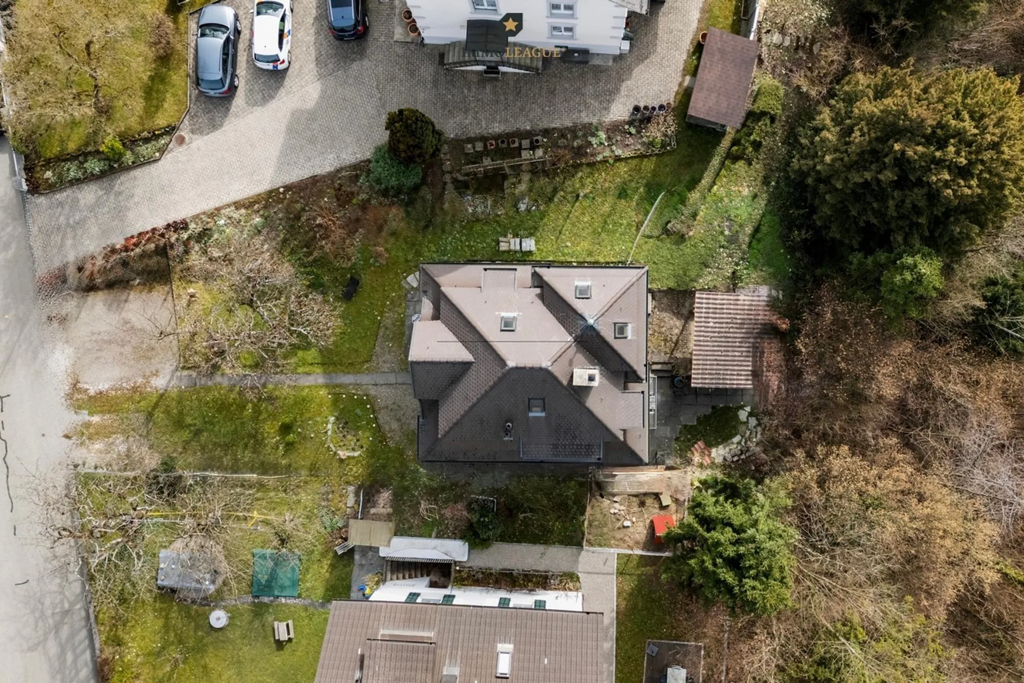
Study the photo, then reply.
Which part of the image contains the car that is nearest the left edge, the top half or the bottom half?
top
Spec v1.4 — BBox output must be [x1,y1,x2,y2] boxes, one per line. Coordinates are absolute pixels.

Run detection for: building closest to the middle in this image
[408,259,659,467]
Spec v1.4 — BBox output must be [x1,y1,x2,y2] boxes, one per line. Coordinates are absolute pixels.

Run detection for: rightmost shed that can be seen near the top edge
[683,28,759,138]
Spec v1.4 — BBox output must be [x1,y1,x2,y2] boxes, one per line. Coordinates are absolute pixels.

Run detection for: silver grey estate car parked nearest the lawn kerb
[196,7,241,95]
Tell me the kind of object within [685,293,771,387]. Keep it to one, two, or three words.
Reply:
shed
